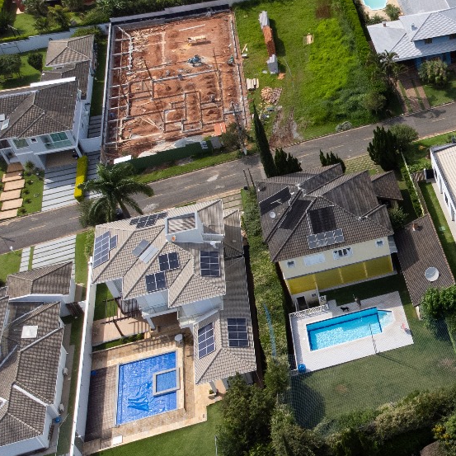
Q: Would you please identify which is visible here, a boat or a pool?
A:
pool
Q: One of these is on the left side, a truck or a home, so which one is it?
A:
home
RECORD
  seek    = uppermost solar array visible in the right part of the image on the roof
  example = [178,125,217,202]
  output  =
[308,227,344,249]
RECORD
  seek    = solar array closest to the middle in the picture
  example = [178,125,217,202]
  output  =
[202,250,219,276]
